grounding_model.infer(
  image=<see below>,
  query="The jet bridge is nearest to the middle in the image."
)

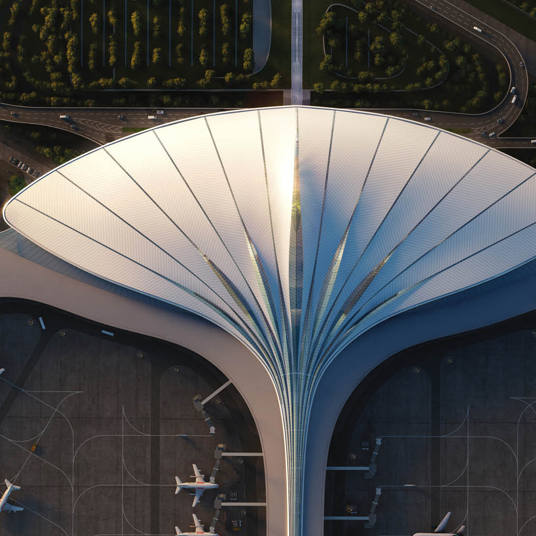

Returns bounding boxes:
[192,381,230,434]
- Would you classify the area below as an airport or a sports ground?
airport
